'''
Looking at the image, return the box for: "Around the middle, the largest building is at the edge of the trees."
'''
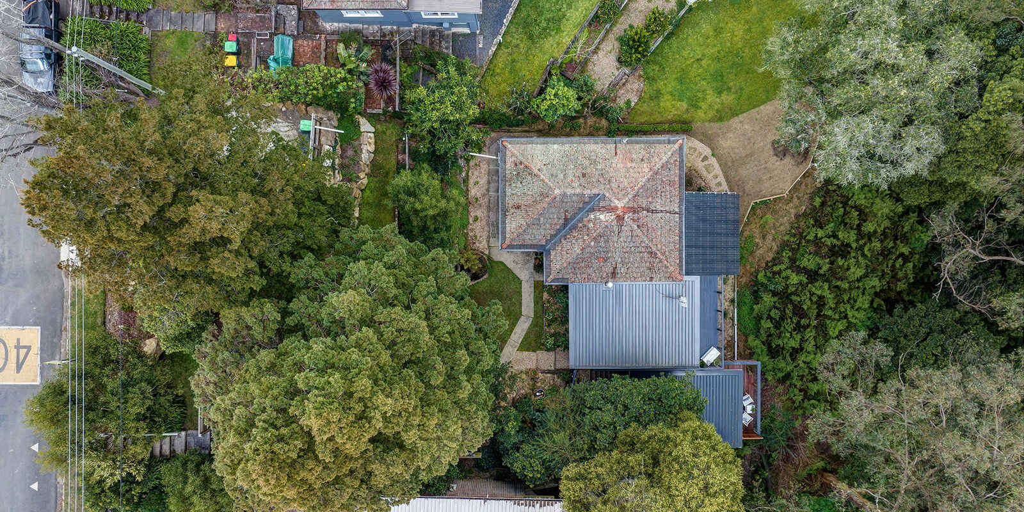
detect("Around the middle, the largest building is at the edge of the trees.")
[470,136,699,379]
